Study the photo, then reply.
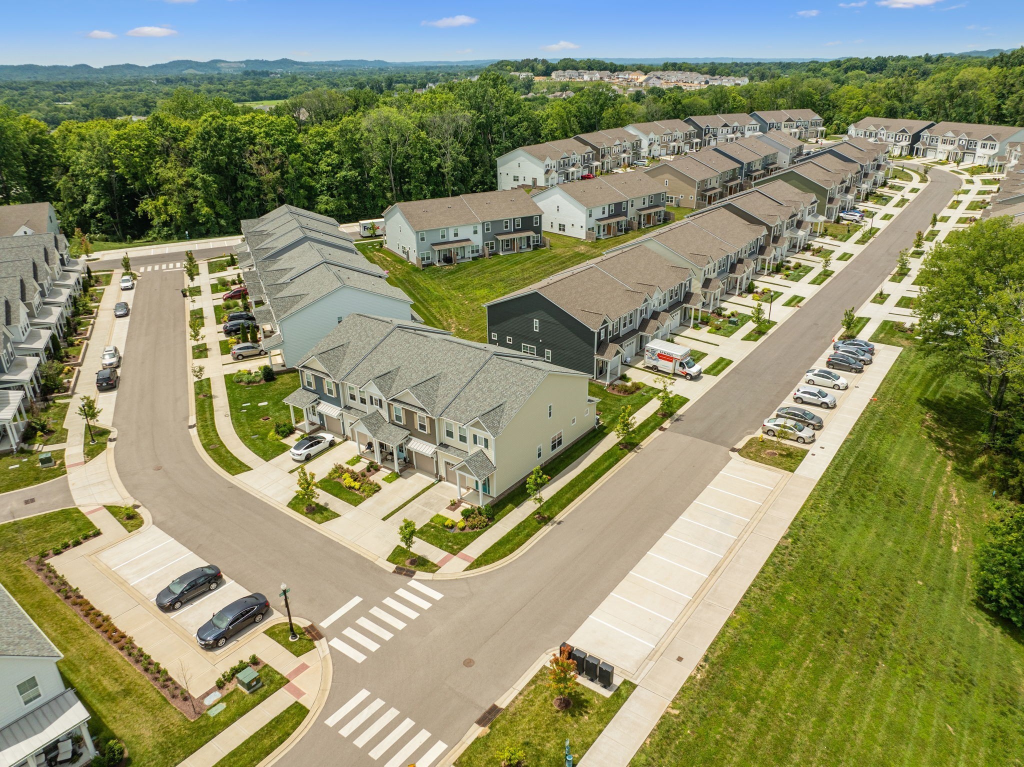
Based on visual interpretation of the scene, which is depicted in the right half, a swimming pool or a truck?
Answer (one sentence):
The feature located in the right half is a truck.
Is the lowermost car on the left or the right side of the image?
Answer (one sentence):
The lowermost car sits on the left side.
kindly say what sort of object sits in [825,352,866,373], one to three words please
car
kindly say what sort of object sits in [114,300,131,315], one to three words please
car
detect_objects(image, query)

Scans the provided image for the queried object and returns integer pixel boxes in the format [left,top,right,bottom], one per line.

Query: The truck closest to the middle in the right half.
[640,336,704,378]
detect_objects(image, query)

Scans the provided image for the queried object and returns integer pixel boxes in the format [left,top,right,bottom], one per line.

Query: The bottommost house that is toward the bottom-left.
[0,595,101,767]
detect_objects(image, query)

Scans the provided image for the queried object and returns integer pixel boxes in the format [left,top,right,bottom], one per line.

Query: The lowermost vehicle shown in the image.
[192,591,269,650]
